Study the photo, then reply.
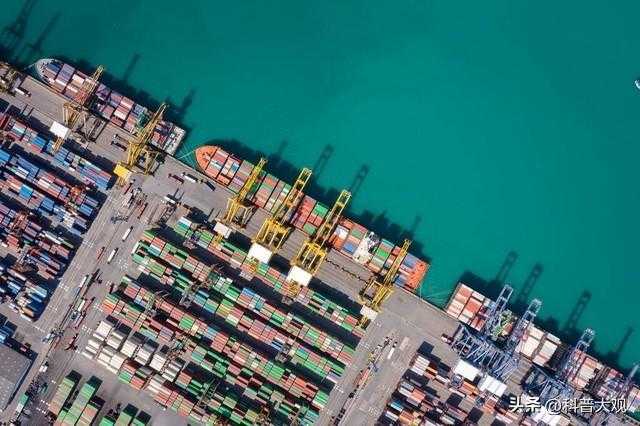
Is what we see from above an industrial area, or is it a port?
port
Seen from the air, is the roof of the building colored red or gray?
gray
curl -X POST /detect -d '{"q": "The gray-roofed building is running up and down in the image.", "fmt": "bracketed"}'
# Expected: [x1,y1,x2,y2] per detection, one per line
[0,337,37,422]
